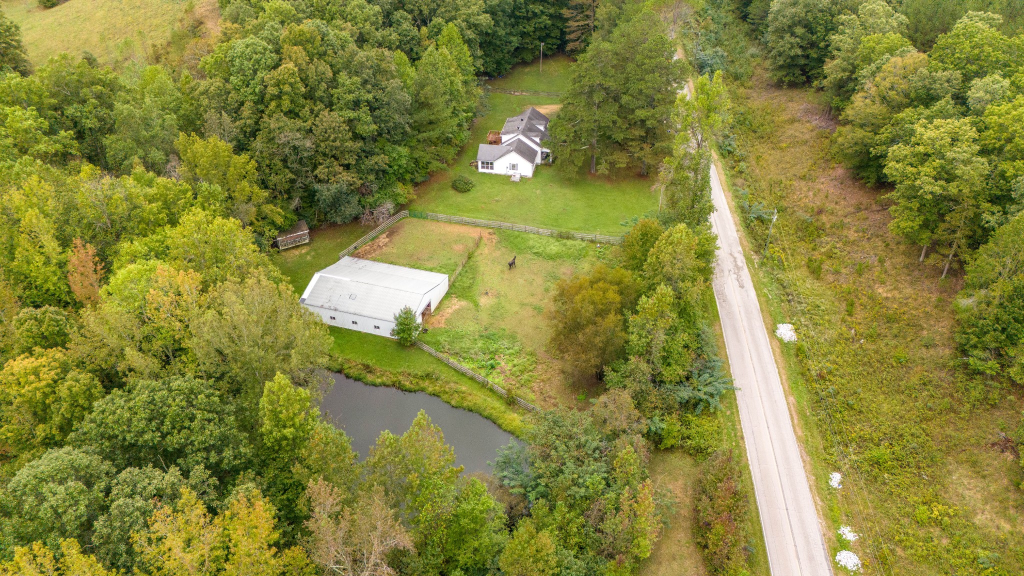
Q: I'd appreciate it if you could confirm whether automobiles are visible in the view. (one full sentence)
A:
No, there isn't any automobile down there.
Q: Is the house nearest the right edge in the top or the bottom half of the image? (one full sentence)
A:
Seen from above, the house nearest the right edge lies in the top half of the view.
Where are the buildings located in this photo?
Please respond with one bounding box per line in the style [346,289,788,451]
[296,256,449,337]
[272,221,311,250]
[476,107,562,177]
